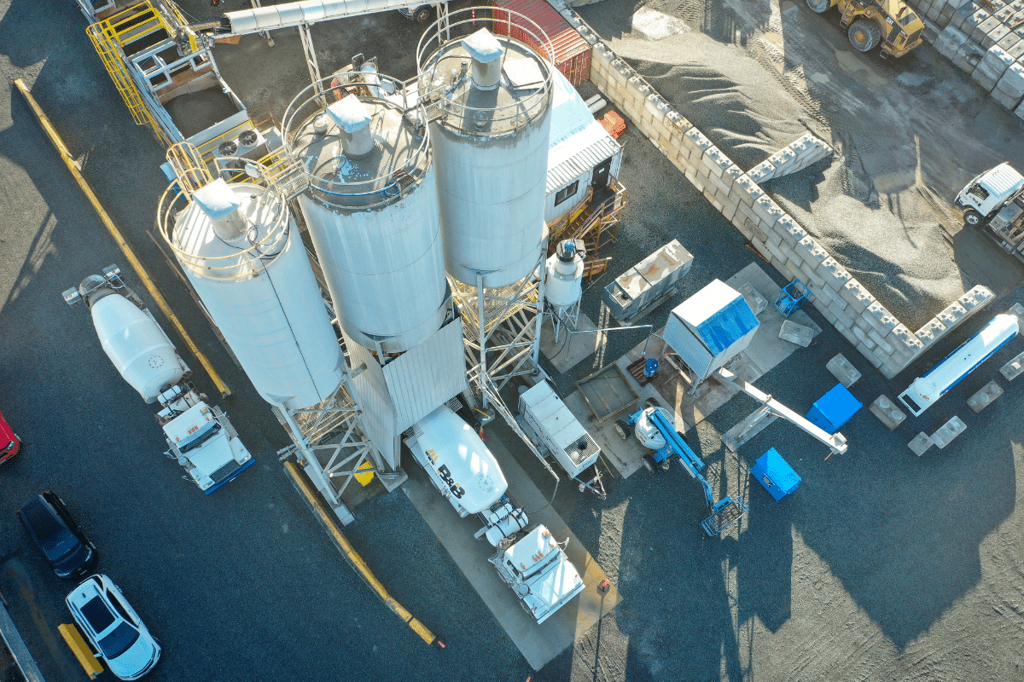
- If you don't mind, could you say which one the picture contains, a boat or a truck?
truck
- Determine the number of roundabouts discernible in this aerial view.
none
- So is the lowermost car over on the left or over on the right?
left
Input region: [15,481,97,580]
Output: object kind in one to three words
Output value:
car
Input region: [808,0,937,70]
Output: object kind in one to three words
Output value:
work vehicle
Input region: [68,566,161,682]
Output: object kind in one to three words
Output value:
car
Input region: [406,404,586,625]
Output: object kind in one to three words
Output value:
truck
